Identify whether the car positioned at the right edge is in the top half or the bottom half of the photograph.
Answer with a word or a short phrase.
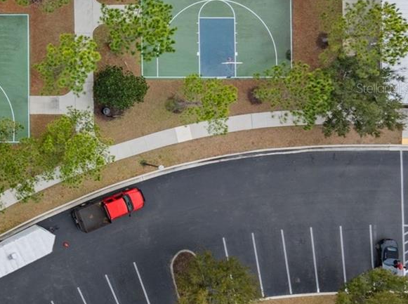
bottom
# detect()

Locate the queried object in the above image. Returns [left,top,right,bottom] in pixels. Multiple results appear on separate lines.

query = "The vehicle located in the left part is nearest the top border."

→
[72,190,144,234]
